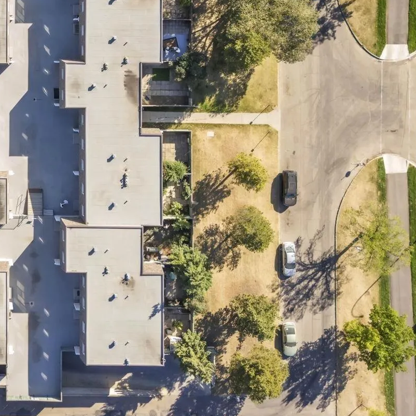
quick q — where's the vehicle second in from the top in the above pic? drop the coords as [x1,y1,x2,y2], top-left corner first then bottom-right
[280,242,298,276]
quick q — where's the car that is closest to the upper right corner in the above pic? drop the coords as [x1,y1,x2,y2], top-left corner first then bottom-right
[280,170,300,205]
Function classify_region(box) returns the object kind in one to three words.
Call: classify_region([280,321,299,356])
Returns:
car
